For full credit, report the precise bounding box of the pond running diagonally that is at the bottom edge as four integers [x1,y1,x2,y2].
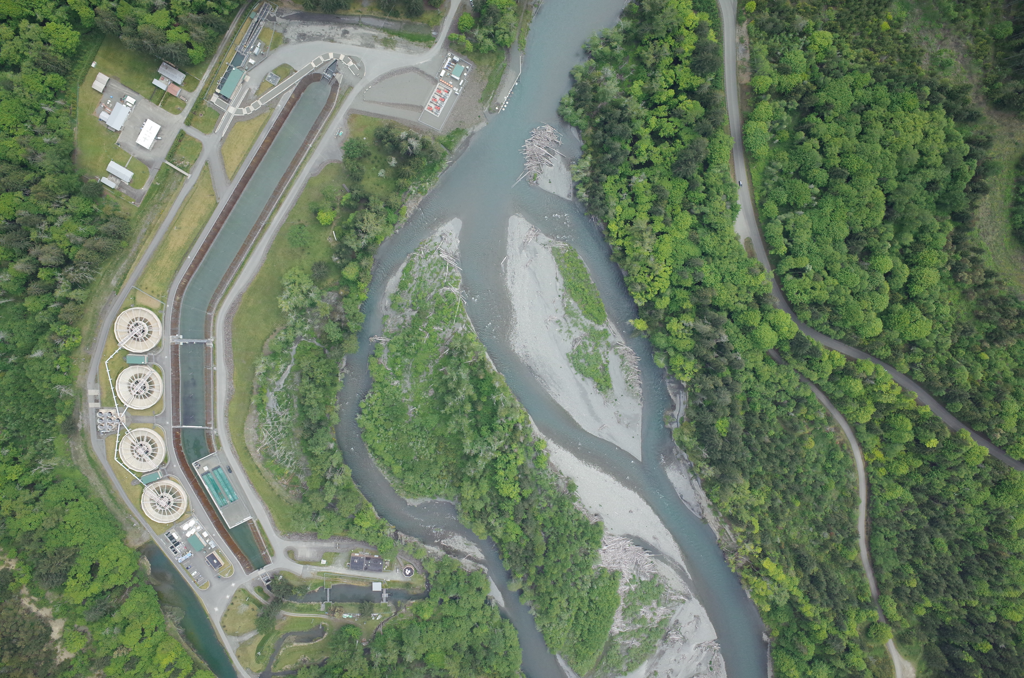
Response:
[136,539,238,678]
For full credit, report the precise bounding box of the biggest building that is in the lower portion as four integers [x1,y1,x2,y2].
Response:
[346,554,384,573]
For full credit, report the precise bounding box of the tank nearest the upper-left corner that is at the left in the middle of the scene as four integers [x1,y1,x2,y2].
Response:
[115,307,162,353]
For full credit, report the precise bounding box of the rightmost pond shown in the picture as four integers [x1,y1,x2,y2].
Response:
[266,575,430,634]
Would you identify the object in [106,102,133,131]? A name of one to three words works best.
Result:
building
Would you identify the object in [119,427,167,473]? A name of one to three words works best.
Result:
storage tank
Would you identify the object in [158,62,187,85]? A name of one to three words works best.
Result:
house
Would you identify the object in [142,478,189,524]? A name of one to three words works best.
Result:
storage tank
